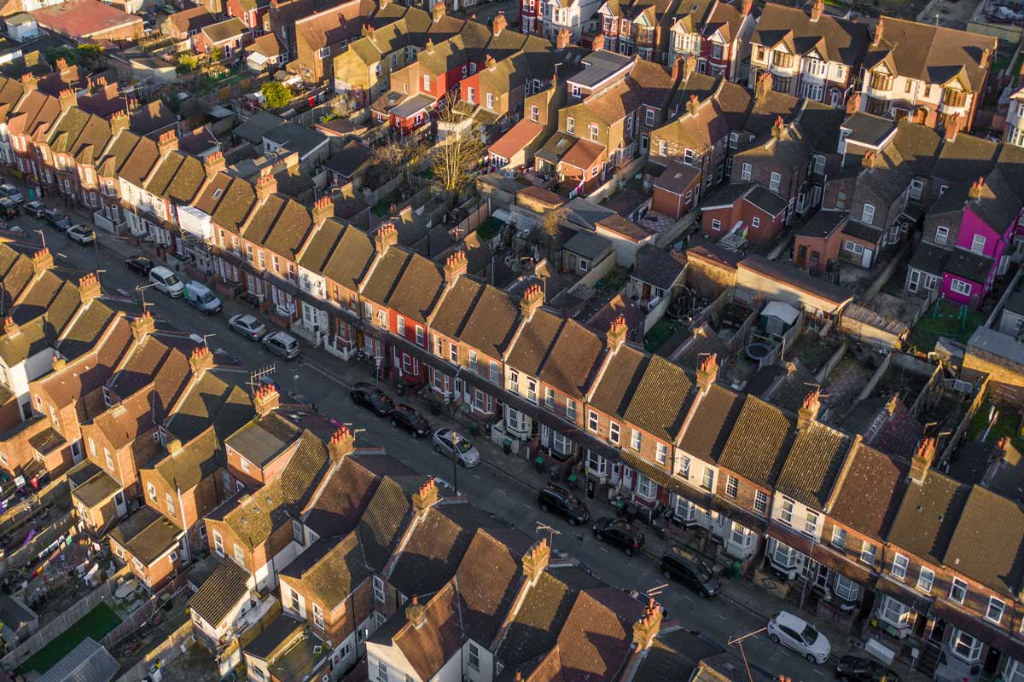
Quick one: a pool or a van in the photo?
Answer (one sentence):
The image shows a van.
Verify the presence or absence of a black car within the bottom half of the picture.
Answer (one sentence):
Yes, a black car appears within the bottom half of the picture.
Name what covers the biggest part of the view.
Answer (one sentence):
What you mostly see from above here is buildings.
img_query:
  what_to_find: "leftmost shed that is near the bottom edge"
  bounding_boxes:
[0,598,51,678]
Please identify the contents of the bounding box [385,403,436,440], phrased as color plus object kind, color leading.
black car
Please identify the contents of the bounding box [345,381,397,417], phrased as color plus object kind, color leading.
black car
